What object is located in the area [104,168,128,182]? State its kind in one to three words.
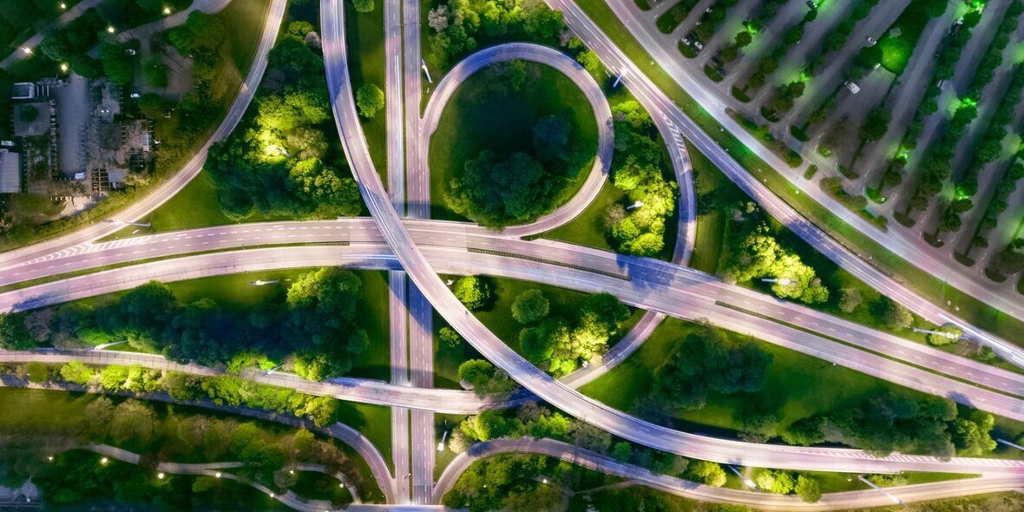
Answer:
shed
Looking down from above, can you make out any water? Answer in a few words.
No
